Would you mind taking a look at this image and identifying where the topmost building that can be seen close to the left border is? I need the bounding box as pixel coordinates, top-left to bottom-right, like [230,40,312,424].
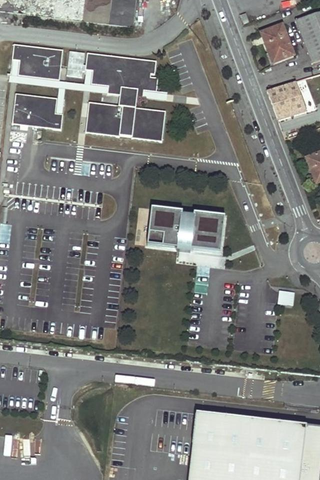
[12,45,64,81]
